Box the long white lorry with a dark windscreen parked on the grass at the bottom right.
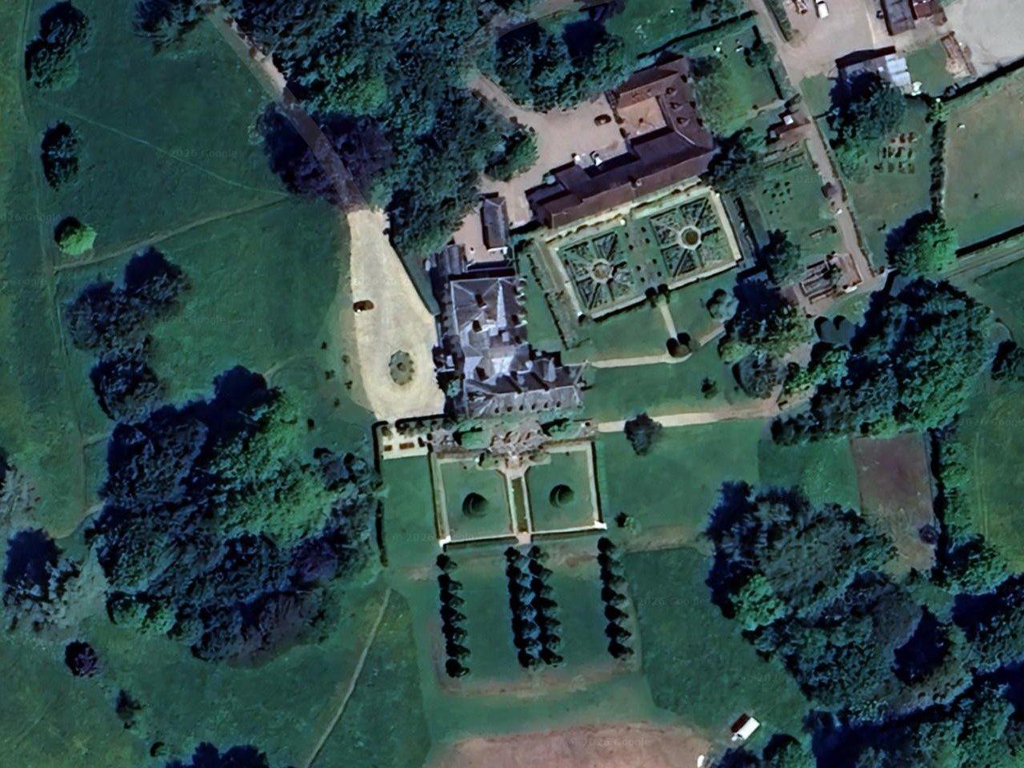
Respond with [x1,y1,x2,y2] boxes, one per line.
[732,716,759,740]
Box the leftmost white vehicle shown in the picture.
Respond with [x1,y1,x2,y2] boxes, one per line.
[592,152,604,168]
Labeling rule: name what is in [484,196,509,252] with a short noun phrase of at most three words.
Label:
building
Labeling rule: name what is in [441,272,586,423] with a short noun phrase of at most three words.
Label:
house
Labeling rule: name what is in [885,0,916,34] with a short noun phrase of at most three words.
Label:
barn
